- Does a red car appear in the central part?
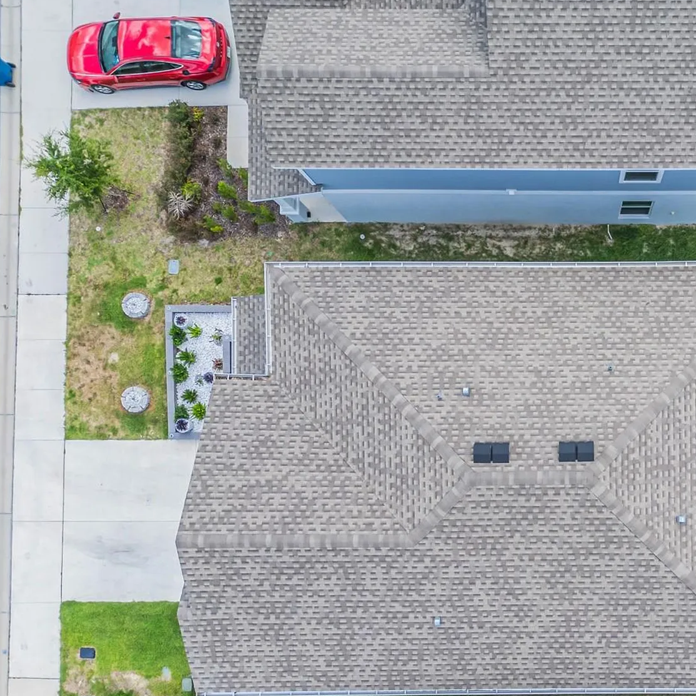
No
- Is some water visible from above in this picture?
No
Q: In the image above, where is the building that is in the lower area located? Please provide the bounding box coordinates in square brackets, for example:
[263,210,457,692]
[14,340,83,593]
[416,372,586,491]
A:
[177,261,696,696]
